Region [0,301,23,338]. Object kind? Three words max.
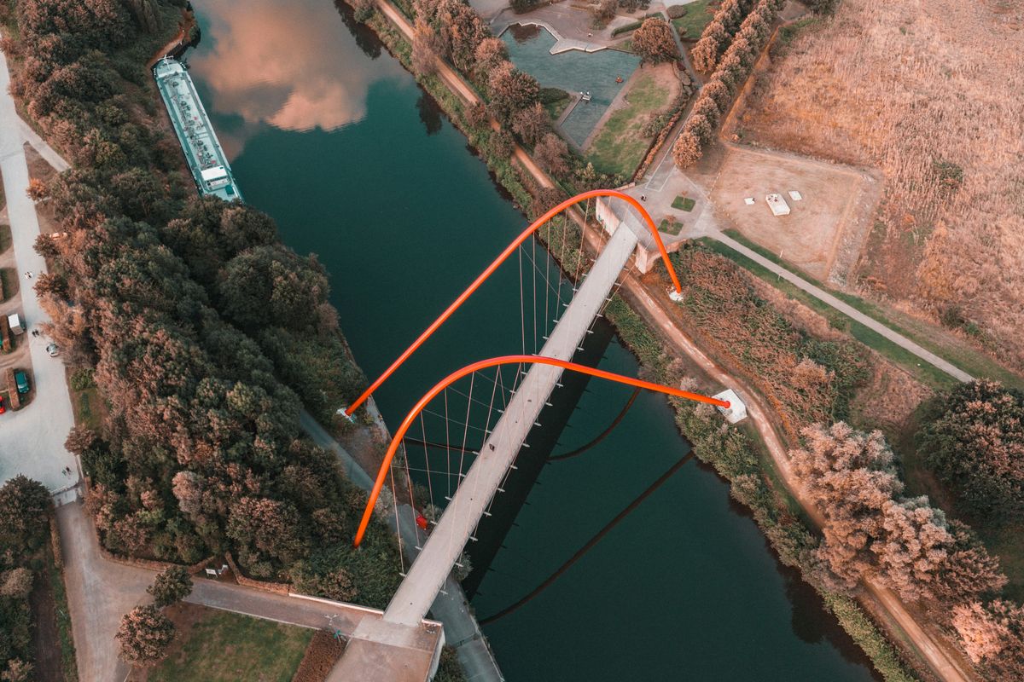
truck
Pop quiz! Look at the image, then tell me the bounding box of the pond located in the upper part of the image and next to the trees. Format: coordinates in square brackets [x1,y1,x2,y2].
[500,22,642,146]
